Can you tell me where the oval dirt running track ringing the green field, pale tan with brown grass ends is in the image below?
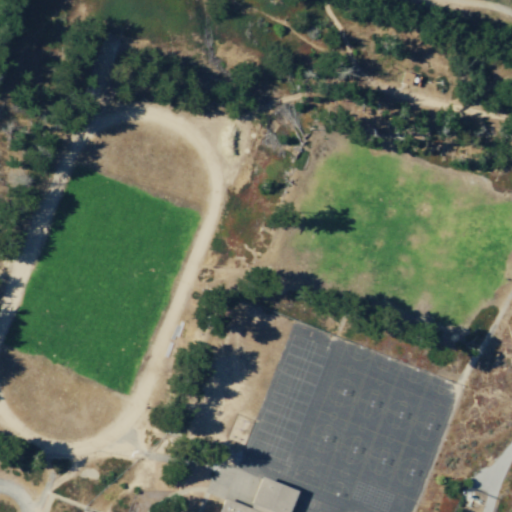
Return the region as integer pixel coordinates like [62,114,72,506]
[0,97,224,463]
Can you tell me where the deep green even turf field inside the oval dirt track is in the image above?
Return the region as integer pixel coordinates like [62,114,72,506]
[8,170,201,395]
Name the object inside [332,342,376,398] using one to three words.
basketball court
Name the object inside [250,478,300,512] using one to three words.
building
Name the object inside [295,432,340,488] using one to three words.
basketball court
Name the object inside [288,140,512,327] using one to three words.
sports field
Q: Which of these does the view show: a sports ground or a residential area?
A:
sports ground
